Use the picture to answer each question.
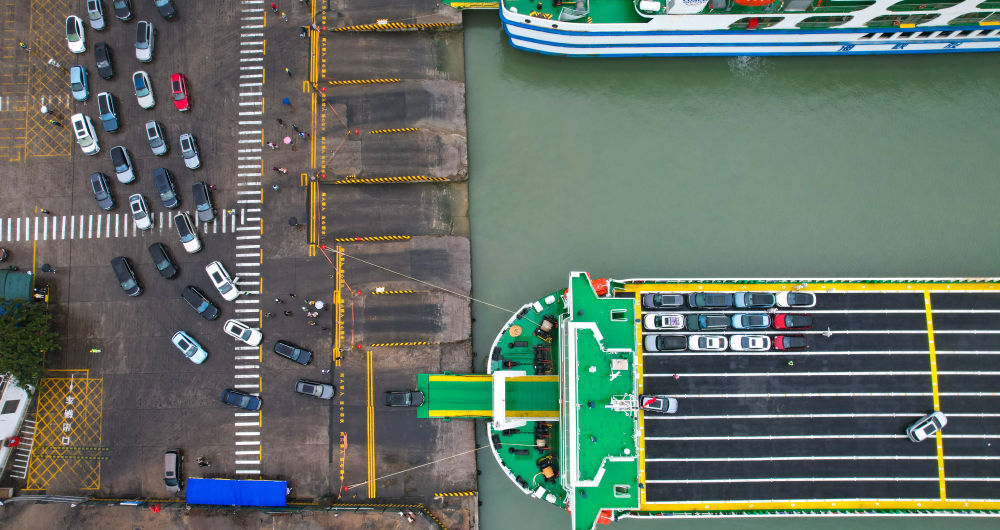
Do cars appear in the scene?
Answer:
Yes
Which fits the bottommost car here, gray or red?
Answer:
gray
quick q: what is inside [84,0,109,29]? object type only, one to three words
car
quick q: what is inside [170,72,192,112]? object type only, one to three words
car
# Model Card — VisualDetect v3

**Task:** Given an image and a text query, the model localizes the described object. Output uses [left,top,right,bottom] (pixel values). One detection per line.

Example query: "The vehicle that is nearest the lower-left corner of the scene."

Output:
[162,451,184,491]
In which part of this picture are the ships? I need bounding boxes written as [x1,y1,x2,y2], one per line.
[417,271,1000,530]
[443,0,1000,58]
